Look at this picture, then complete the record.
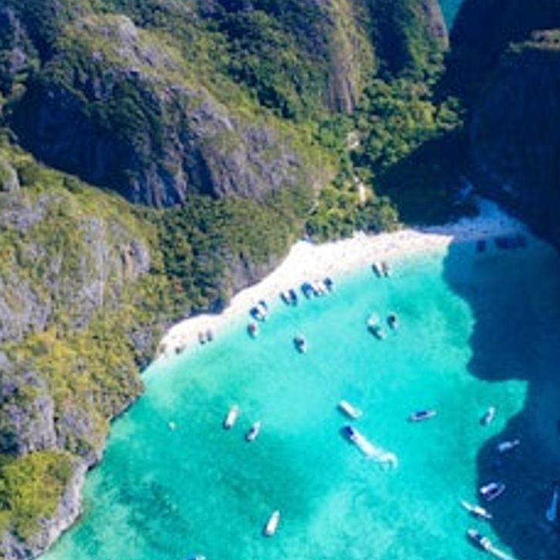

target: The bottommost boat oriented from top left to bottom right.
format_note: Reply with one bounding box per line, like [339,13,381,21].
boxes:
[468,526,492,548]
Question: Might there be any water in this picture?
Yes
